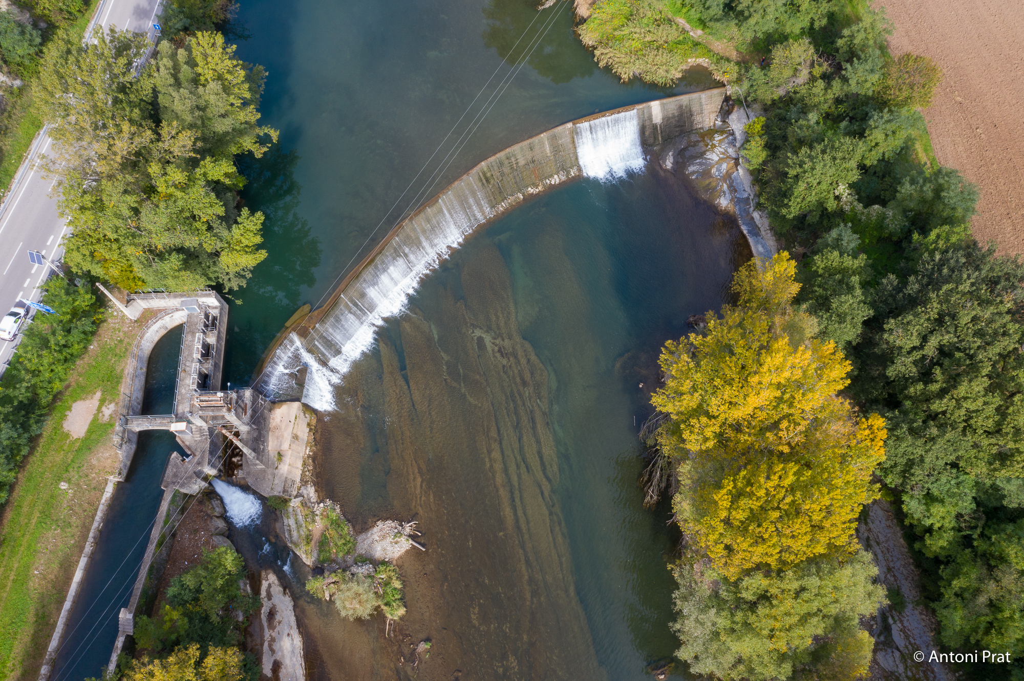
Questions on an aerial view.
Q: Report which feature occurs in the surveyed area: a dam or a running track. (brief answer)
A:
dam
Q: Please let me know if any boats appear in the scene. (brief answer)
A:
No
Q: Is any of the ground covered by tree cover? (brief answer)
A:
Yes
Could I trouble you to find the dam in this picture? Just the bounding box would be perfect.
[305,86,726,360]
